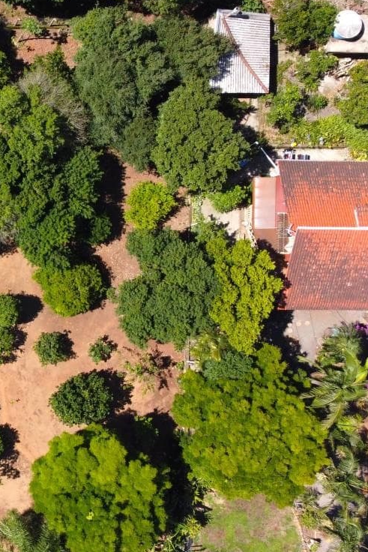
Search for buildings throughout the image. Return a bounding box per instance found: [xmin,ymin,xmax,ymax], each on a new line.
[204,4,271,97]
[271,159,368,311]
